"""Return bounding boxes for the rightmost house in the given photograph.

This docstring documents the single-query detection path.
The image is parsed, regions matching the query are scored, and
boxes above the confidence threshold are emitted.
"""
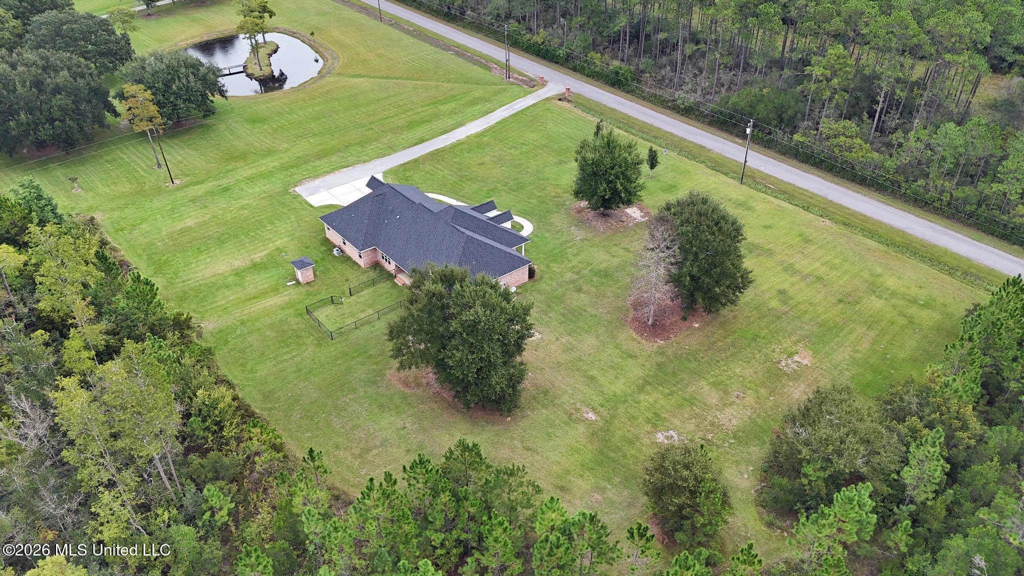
[318,175,533,299]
